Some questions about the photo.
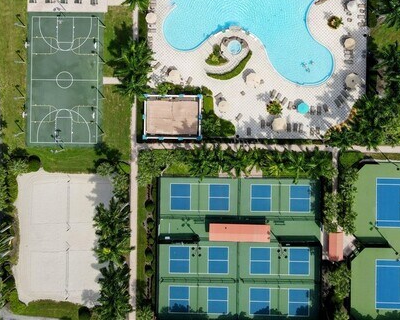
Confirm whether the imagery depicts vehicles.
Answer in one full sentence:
No, the picture doesn't show any vehicle.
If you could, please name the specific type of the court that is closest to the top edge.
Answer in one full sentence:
I'd say the court that is closest to the top edge is a basketball court.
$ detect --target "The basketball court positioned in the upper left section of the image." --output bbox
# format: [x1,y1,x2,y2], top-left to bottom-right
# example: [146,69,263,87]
[30,17,99,143]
